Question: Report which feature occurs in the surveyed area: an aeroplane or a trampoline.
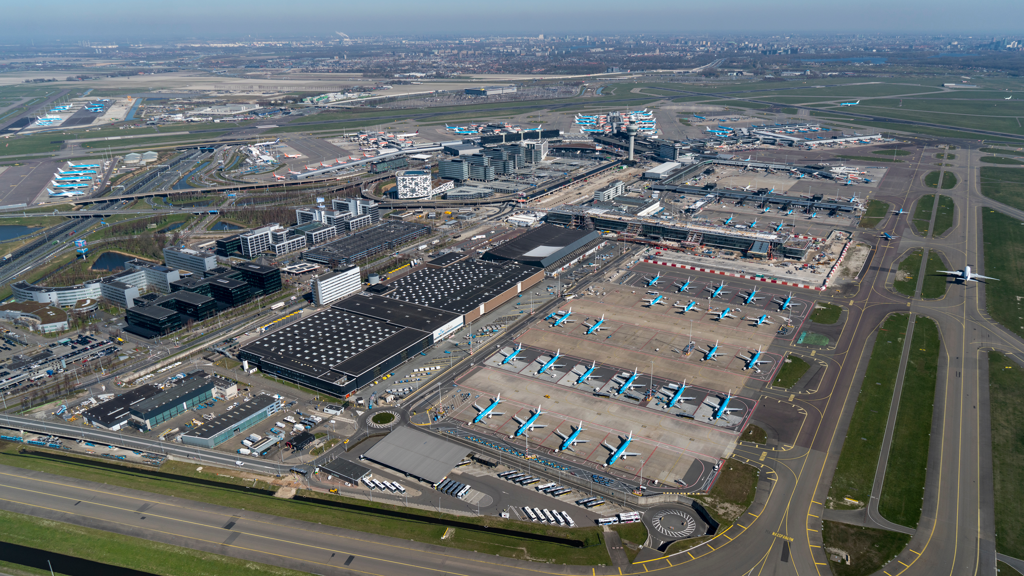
aeroplane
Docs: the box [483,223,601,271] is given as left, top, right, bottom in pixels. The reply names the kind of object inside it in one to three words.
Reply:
hangar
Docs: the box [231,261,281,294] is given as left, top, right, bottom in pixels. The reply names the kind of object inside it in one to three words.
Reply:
building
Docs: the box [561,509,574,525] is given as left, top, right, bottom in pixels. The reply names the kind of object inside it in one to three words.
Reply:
vehicle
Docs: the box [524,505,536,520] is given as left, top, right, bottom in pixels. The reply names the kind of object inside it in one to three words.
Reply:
vehicle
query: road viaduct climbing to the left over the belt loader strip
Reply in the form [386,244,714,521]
[0,419,297,479]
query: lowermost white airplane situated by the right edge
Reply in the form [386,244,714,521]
[937,265,998,283]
